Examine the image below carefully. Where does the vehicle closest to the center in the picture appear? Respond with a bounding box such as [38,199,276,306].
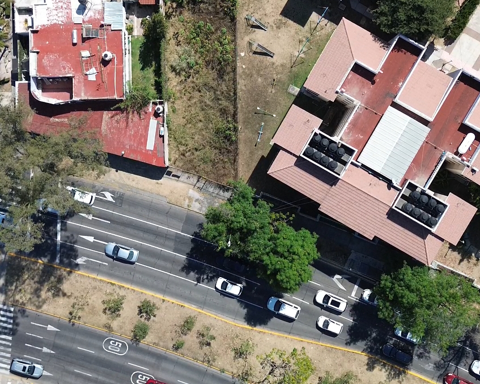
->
[213,276,244,297]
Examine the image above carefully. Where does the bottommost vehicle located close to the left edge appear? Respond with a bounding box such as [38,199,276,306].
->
[10,357,45,379]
